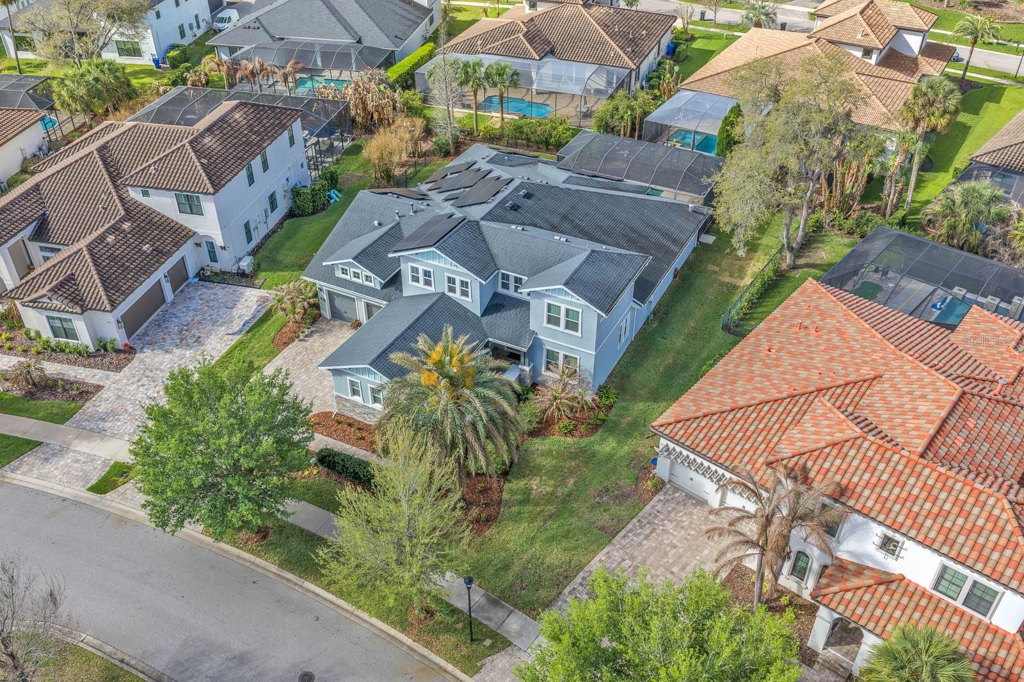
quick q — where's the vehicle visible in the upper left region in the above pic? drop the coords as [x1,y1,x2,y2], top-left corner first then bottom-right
[209,5,238,28]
